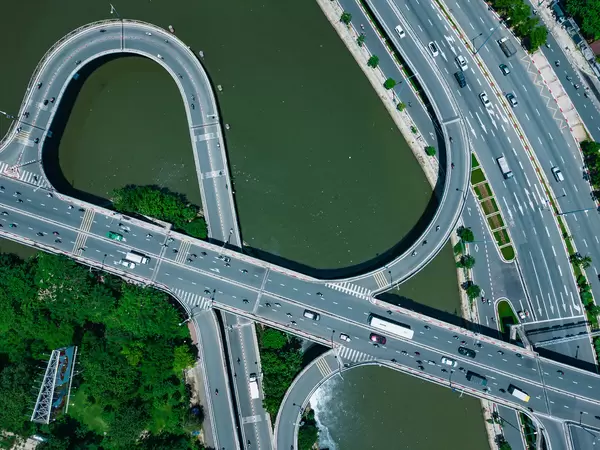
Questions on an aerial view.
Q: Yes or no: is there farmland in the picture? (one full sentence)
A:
No, no farmland is visible.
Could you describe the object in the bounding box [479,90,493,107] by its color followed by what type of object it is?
white car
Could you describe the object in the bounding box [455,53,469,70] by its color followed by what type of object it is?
white car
